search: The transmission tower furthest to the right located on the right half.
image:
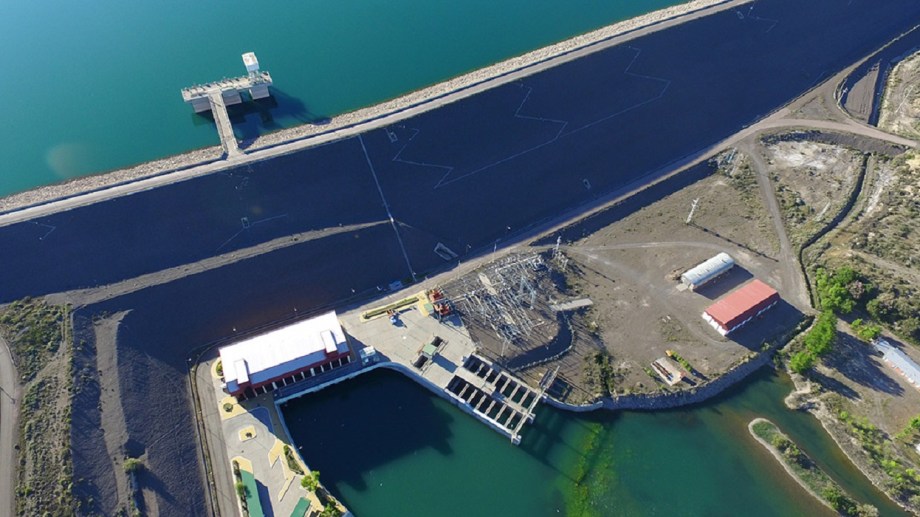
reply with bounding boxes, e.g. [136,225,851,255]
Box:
[684,197,699,225]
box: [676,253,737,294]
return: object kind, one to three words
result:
shed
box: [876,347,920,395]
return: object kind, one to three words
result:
house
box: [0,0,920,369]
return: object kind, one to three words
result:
dam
